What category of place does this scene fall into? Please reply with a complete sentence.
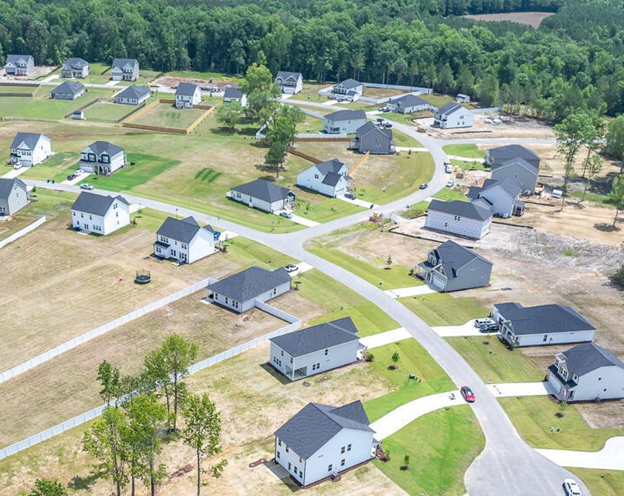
The area seen from above is a residential area.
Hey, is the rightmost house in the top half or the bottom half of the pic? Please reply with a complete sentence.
The bottom half of the photo is where the rightmost house is.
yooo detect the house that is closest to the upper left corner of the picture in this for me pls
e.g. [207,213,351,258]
[4,49,33,76]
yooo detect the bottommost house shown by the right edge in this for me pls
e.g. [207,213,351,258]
[545,340,624,406]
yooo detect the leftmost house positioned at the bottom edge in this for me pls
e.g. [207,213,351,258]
[273,398,381,490]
